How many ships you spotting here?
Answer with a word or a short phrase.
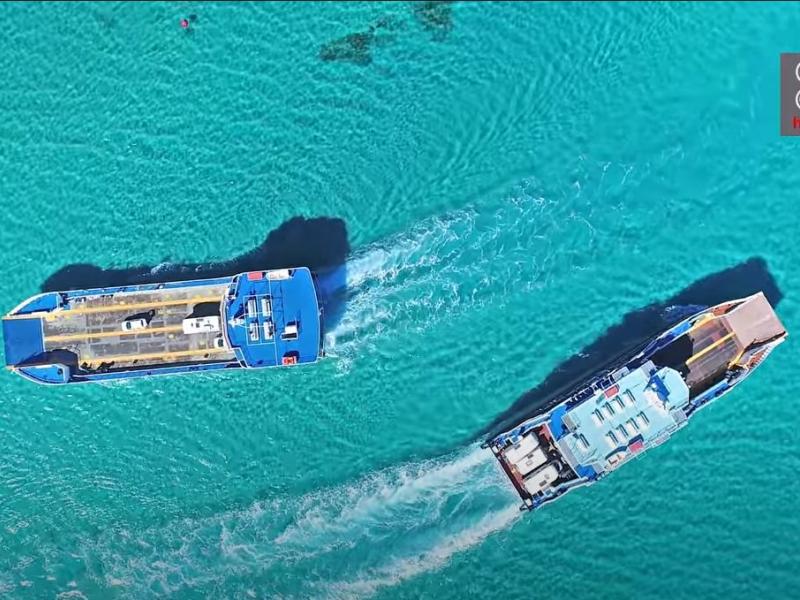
2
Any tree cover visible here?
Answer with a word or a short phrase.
No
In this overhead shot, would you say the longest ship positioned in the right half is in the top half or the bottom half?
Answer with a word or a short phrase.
bottom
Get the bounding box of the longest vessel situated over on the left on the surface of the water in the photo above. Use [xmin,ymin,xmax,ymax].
[2,267,327,384]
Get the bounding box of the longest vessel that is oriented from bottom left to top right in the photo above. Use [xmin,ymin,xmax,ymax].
[479,292,789,513]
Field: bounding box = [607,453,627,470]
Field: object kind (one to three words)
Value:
boat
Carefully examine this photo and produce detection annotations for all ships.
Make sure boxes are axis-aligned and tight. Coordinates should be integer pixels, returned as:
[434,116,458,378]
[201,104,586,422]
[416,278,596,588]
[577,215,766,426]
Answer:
[479,292,789,513]
[2,267,327,384]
